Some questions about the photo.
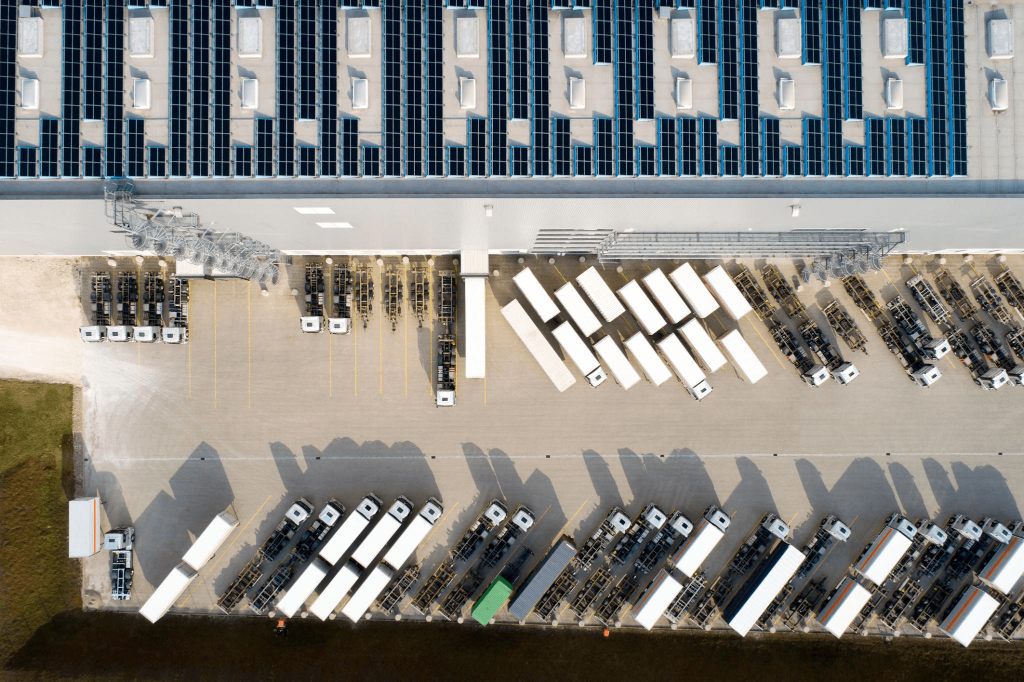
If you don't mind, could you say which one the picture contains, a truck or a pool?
truck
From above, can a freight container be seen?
Yes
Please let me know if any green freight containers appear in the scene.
Yes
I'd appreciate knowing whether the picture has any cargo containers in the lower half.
Yes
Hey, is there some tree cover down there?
No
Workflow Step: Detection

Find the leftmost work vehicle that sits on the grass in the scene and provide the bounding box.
[275,621,287,638]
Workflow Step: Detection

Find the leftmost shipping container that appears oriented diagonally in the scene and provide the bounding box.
[472,573,513,625]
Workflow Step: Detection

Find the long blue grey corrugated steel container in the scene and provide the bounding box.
[509,536,576,620]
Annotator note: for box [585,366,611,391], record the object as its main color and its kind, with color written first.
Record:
white truck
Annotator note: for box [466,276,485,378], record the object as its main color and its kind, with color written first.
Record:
white trailer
